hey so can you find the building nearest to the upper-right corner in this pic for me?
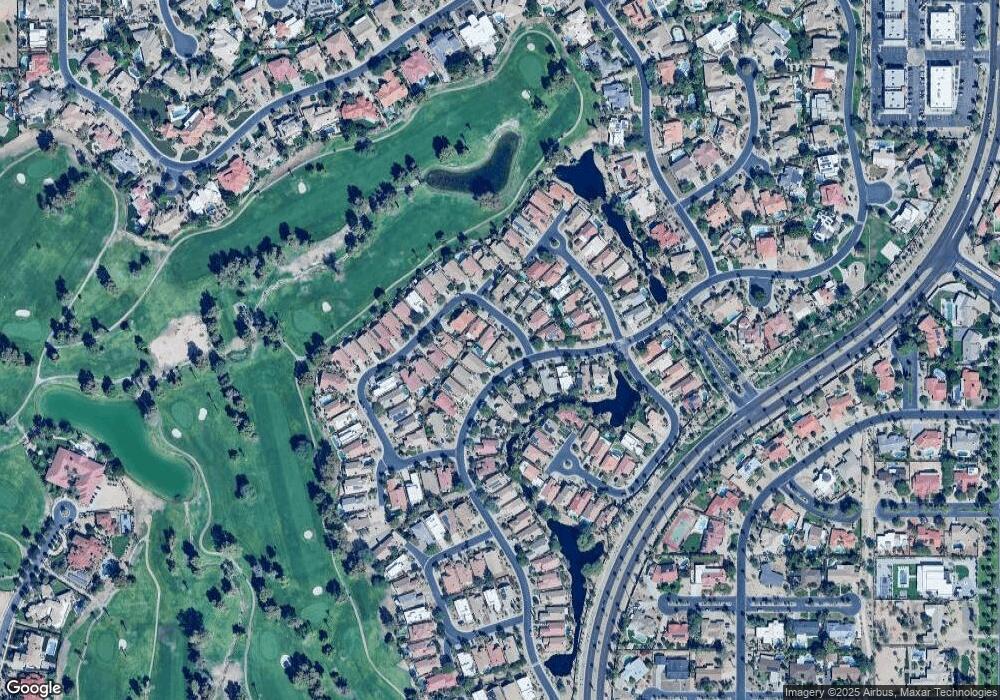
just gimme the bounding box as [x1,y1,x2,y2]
[930,11,956,43]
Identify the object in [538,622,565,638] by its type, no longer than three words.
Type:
house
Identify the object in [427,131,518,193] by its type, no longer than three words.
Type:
pond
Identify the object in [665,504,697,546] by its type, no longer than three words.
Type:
tennis court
